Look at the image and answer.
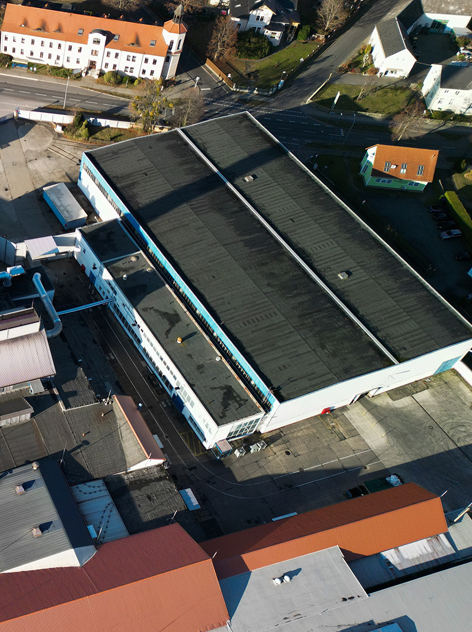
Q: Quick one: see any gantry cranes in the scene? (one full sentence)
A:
No, this view has no gantry crane in it.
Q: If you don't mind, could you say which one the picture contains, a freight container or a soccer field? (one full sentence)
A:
There is a freight container in the scene.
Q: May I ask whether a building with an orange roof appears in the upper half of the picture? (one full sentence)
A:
Yes, there is a building with an orange roof in the upper half of the picture.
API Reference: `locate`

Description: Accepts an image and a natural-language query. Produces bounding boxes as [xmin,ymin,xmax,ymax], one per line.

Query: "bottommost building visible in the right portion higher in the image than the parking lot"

[358,139,434,192]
